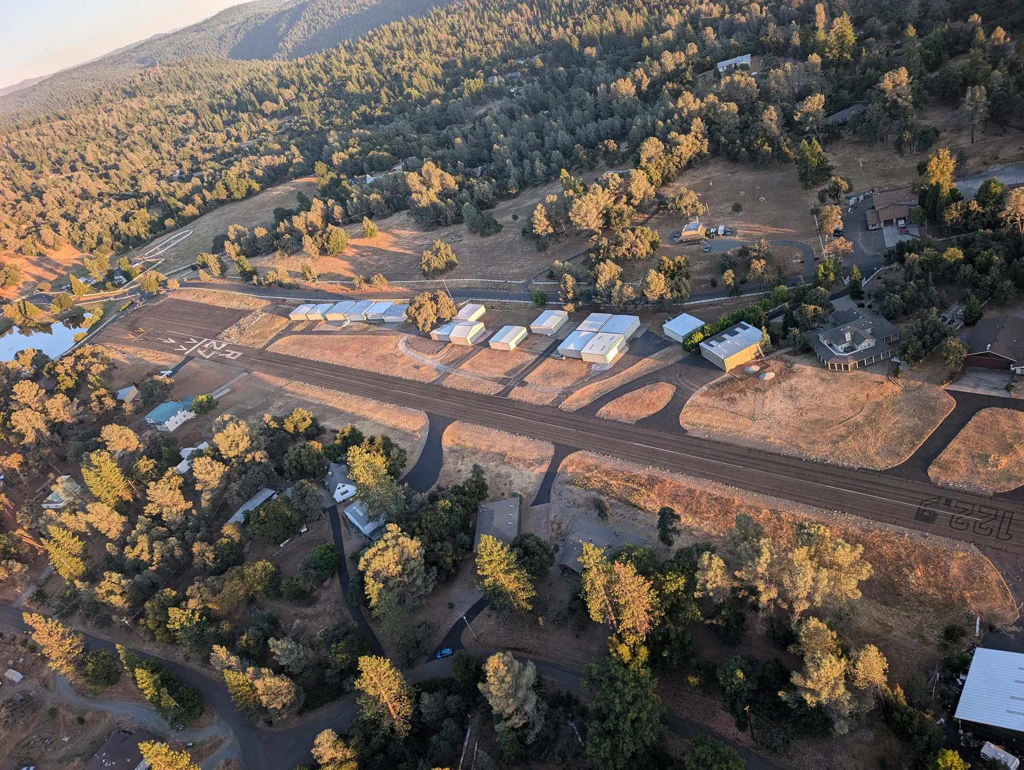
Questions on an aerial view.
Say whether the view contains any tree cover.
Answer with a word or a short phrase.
Yes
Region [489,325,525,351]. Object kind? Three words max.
hangar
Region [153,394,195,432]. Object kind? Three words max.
house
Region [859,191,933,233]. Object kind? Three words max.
building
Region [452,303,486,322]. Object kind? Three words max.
hangar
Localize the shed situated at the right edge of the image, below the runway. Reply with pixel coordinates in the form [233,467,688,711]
[952,644,1024,754]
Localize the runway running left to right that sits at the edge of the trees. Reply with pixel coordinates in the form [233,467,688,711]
[95,298,1024,564]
